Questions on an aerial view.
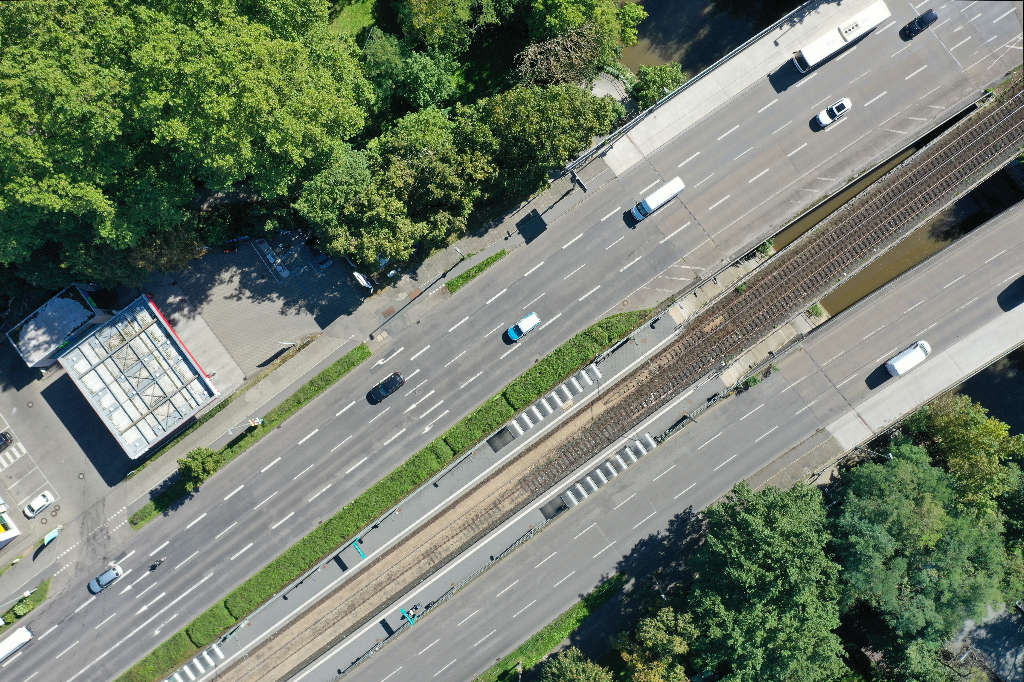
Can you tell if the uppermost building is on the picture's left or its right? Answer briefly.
left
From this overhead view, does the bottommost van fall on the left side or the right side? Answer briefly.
left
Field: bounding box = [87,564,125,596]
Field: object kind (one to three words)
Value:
car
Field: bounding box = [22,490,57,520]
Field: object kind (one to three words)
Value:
car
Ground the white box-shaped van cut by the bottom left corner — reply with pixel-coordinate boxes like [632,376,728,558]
[0,628,32,665]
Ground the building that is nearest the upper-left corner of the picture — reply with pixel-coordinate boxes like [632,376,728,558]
[6,283,125,367]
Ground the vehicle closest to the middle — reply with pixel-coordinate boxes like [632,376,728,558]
[505,310,543,342]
